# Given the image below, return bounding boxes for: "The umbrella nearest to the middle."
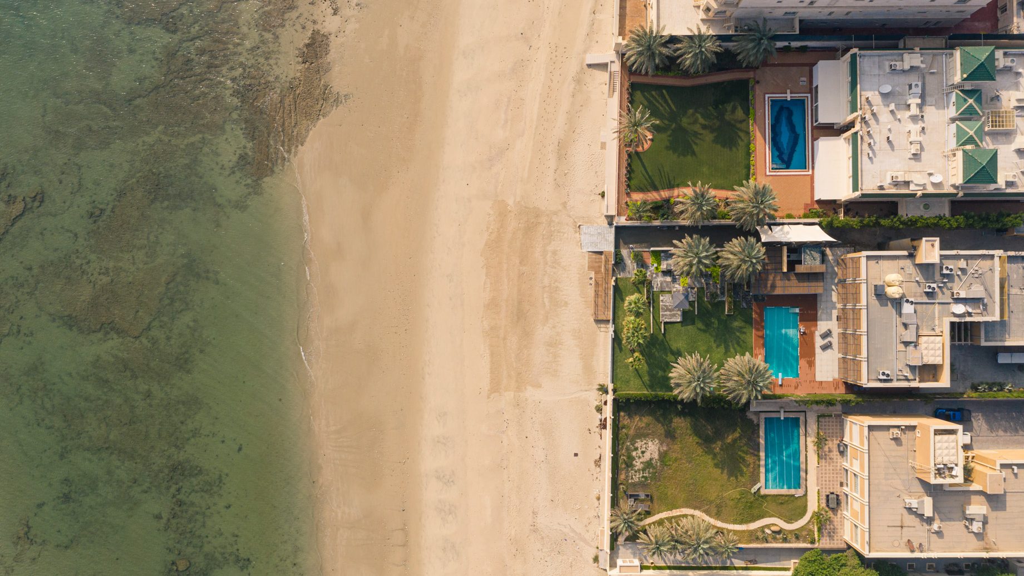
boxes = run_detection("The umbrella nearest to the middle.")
[673,293,688,309]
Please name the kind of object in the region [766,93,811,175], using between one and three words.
swimming pool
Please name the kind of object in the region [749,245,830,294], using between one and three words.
building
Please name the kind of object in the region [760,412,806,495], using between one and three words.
swimming pool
